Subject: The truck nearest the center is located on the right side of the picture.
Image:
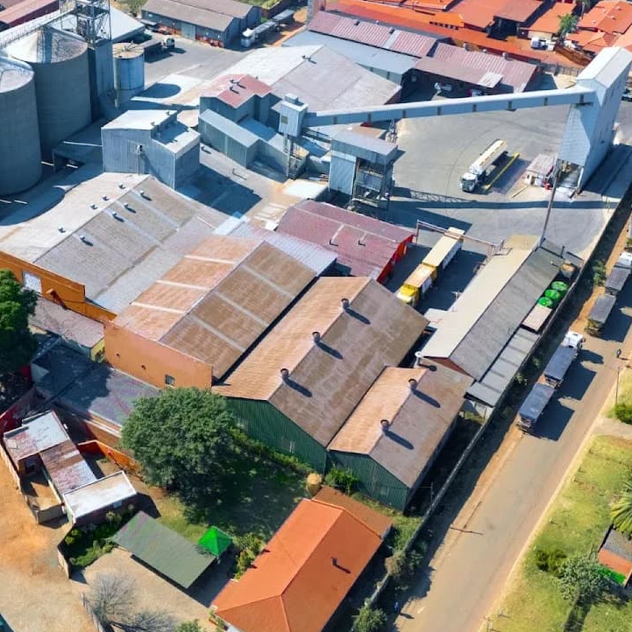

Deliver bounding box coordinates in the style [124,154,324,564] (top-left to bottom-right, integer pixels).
[408,216,468,299]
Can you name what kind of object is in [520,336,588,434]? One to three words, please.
truck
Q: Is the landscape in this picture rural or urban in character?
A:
urban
